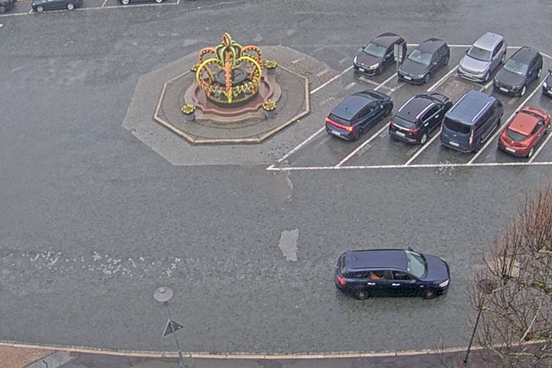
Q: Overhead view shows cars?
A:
Yes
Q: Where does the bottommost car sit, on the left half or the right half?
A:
right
